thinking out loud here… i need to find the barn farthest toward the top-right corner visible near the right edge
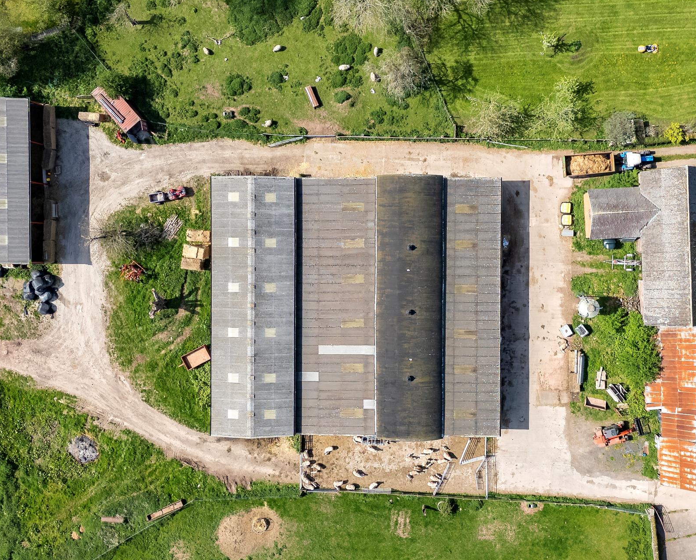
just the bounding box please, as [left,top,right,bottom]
[584,165,696,327]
